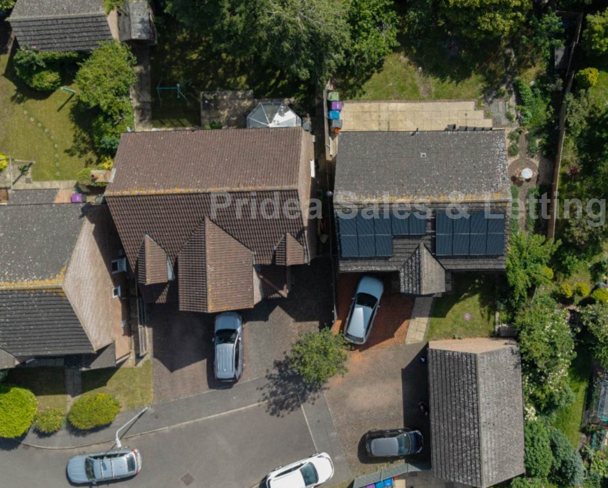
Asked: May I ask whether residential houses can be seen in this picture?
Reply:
Yes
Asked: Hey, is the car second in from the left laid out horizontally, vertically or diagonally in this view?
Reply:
vertically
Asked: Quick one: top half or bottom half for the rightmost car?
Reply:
bottom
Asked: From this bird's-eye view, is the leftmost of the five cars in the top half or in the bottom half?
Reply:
bottom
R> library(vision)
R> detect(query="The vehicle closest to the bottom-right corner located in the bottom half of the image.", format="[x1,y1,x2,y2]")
[365,426,424,460]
